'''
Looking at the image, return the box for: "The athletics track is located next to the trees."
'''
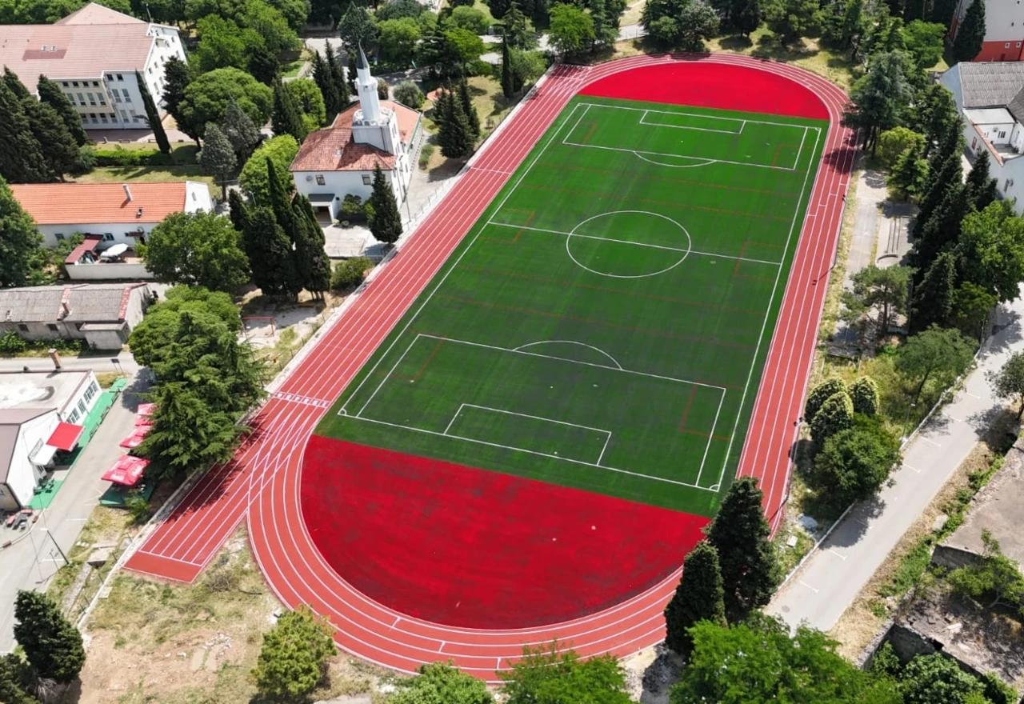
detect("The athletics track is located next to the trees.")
[245,52,860,687]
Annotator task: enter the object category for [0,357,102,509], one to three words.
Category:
building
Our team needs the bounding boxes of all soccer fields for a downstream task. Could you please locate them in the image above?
[314,95,828,520]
